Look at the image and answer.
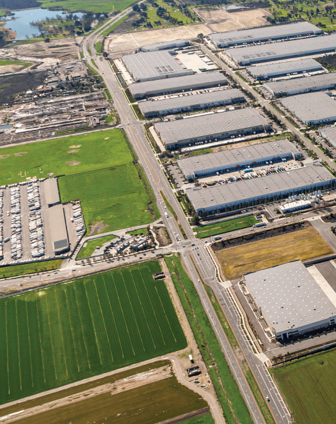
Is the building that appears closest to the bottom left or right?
right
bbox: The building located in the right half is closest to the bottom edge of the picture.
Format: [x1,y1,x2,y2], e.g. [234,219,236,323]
[243,260,336,341]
